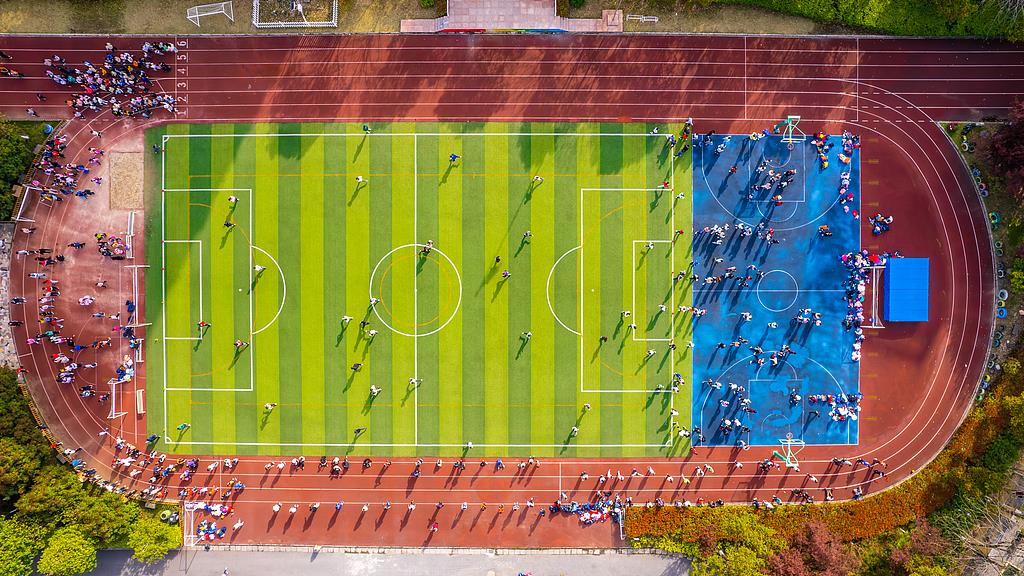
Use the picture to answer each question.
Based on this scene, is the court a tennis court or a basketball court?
basketball court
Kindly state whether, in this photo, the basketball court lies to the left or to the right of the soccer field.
on its right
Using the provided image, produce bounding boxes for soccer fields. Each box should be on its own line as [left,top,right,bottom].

[145,123,693,457]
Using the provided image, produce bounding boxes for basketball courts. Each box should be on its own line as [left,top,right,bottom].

[693,134,860,446]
